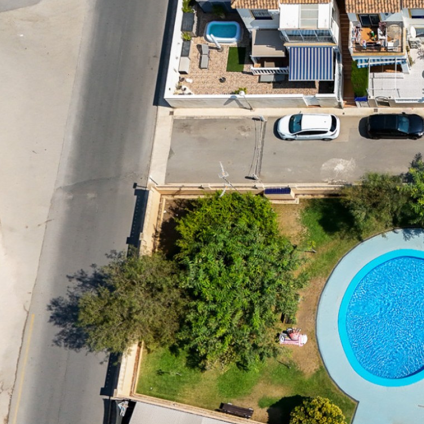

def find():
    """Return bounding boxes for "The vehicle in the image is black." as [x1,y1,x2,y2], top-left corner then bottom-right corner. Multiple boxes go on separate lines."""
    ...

[366,111,424,141]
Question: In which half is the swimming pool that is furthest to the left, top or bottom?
top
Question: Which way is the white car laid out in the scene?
from side to side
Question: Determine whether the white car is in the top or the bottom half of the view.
top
